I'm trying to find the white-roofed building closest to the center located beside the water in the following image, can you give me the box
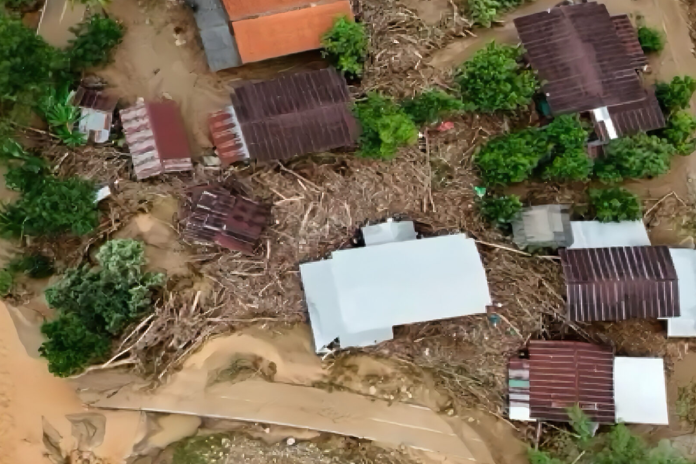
[300,220,492,352]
